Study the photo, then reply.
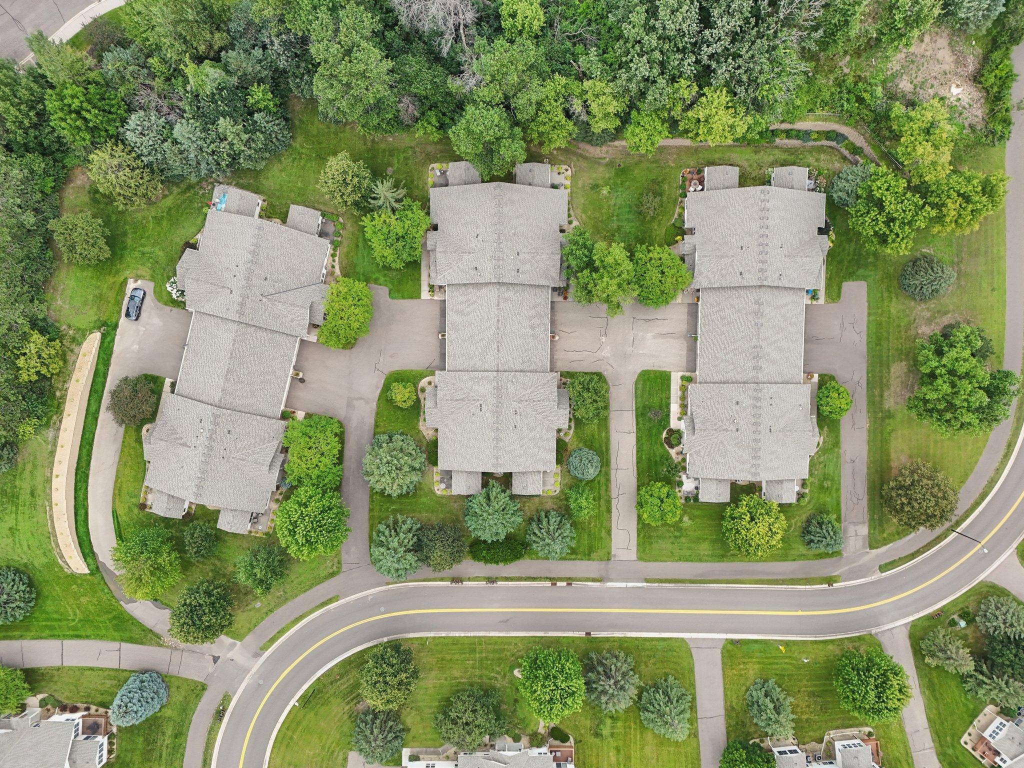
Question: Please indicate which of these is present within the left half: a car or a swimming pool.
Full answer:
It is a car that can be seen within the left half.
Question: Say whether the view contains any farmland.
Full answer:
No, the scene doesn't show any farmland.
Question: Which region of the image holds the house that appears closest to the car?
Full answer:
The house that appears closest to the car is in the left part of the image.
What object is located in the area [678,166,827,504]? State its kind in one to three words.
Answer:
house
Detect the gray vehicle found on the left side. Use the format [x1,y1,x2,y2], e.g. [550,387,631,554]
[121,285,145,322]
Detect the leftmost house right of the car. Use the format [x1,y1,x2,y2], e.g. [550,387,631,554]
[143,188,332,534]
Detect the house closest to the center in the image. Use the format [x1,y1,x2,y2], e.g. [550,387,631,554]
[426,162,569,495]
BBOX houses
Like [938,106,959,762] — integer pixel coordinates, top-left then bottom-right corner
[770,737,871,768]
[678,166,827,504]
[426,162,569,495]
[0,708,108,768]
[143,188,332,534]
[405,740,573,768]
[980,714,1024,768]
